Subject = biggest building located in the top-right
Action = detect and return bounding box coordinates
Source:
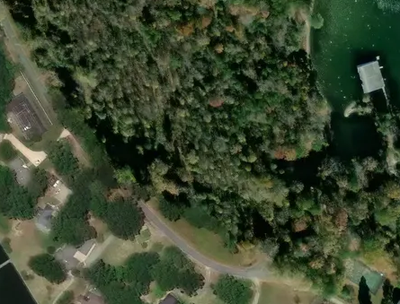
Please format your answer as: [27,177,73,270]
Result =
[356,58,384,92]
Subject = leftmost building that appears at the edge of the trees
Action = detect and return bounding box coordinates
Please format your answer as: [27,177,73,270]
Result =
[5,156,35,185]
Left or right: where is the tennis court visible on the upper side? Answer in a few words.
left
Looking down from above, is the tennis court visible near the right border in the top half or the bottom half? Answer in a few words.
bottom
